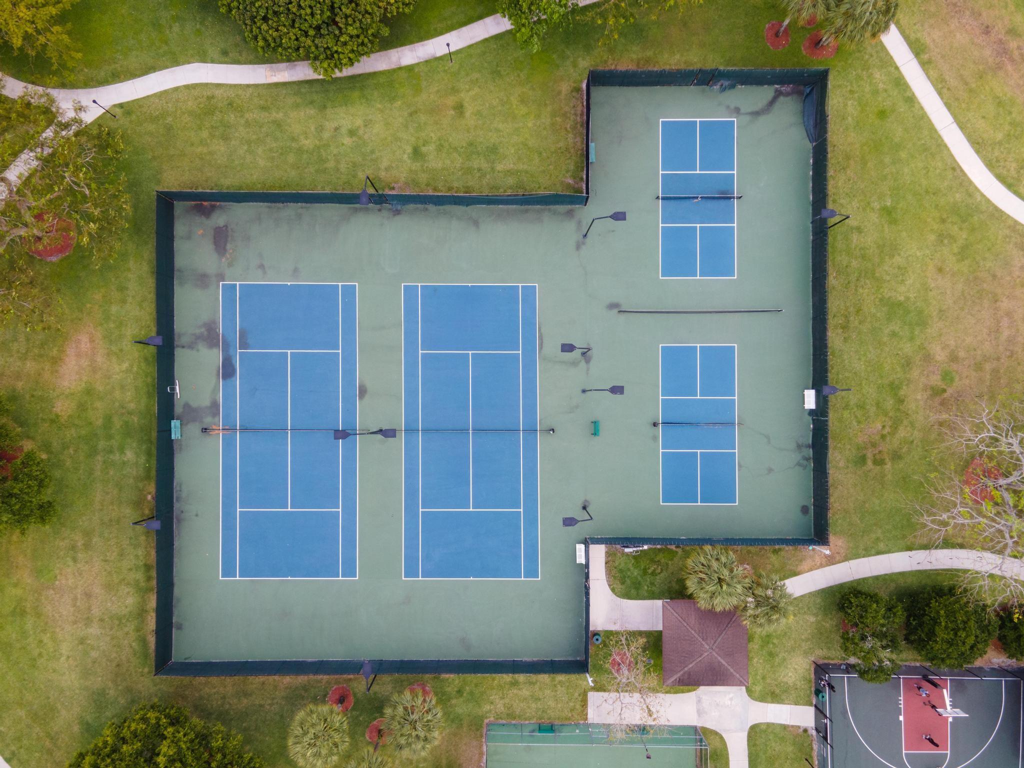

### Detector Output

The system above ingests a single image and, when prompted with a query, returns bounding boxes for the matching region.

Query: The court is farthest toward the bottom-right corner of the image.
[814,663,1024,768]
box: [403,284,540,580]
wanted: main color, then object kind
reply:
blue tennis court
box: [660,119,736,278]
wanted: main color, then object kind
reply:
blue sports court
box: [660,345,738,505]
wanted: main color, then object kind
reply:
blue sports court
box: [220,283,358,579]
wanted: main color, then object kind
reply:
blue tennis court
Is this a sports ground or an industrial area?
sports ground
